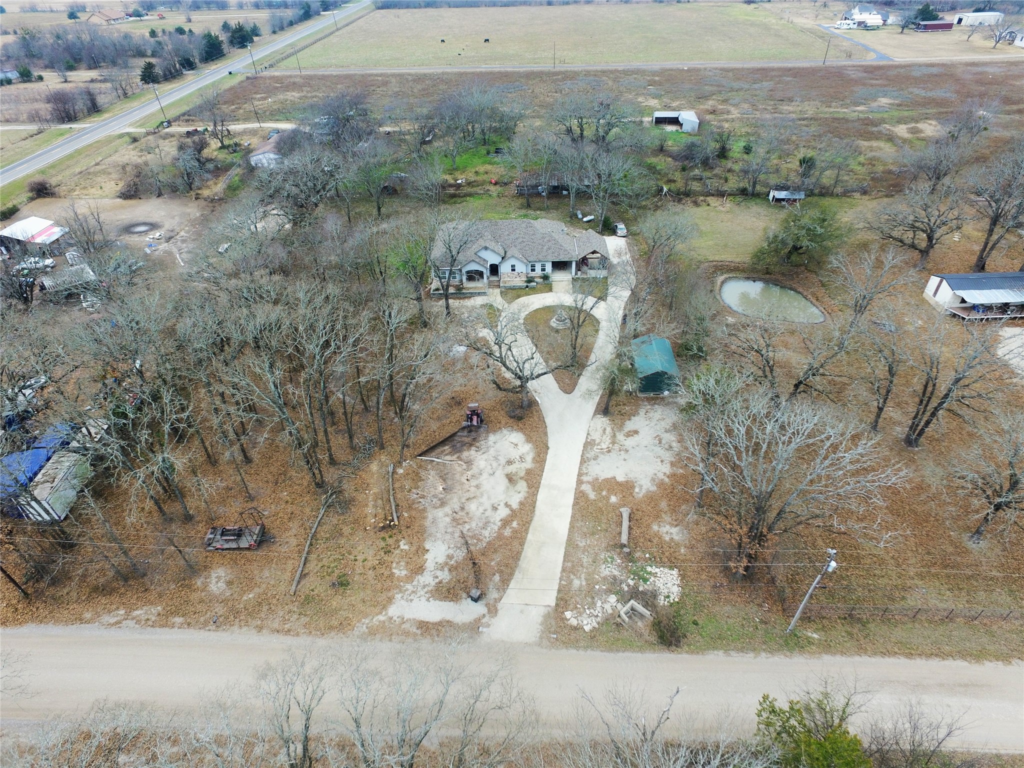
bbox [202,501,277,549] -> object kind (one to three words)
trailer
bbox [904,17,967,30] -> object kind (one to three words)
building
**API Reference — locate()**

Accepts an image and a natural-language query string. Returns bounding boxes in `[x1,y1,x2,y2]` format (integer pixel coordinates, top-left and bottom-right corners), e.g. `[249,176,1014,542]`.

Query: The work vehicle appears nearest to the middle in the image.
[463,396,484,439]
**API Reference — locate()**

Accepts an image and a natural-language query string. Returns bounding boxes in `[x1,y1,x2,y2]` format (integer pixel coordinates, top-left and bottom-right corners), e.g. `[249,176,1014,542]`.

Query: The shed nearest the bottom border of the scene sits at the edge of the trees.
[630,329,685,393]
